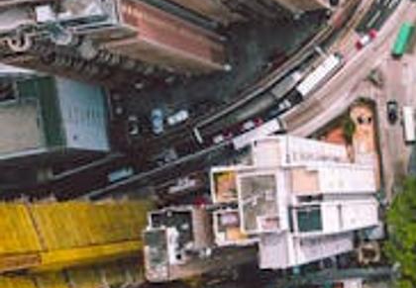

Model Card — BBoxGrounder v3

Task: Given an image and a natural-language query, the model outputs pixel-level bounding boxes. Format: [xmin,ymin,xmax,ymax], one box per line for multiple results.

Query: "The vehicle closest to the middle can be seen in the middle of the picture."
[213,129,236,145]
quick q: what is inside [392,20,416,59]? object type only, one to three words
truck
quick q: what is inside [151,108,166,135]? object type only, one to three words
vehicle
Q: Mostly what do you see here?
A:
buildings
